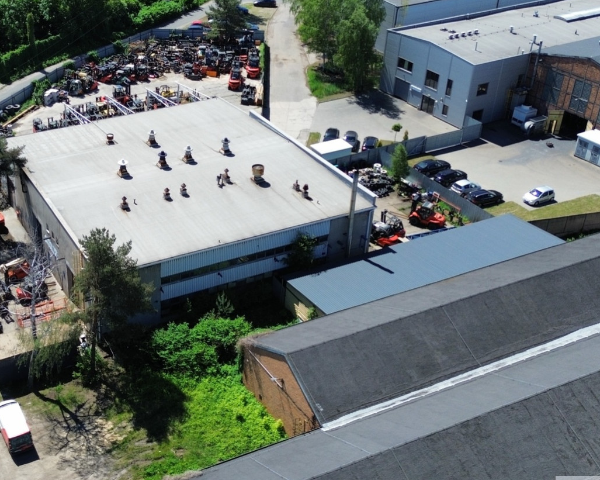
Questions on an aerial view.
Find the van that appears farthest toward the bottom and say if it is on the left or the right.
left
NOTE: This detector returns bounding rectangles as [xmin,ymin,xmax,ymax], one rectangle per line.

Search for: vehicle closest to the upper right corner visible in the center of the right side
[522,185,559,204]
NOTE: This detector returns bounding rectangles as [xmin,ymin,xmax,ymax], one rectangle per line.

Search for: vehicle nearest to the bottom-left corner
[0,397,36,450]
